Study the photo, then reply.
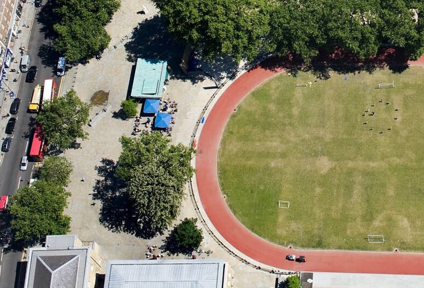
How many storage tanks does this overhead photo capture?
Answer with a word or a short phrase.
0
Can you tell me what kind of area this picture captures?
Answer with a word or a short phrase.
sports ground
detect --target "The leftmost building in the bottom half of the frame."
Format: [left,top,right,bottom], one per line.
[24,235,100,288]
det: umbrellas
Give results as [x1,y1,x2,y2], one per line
[155,111,173,128]
[143,98,160,113]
